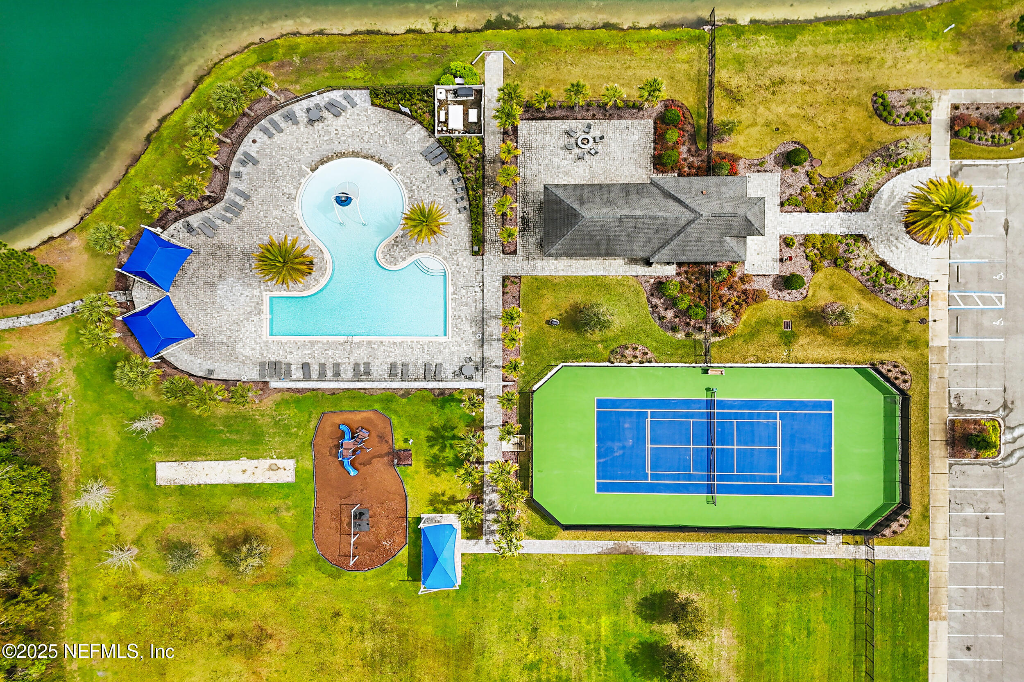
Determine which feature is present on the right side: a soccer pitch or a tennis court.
tennis court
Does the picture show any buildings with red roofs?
No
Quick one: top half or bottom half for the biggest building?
top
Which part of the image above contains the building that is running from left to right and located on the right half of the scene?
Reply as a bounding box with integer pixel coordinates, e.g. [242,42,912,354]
[543,176,766,262]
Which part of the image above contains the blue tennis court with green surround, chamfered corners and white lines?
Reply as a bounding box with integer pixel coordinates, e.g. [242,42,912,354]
[532,366,900,530]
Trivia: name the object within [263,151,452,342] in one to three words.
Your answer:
swimming pool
